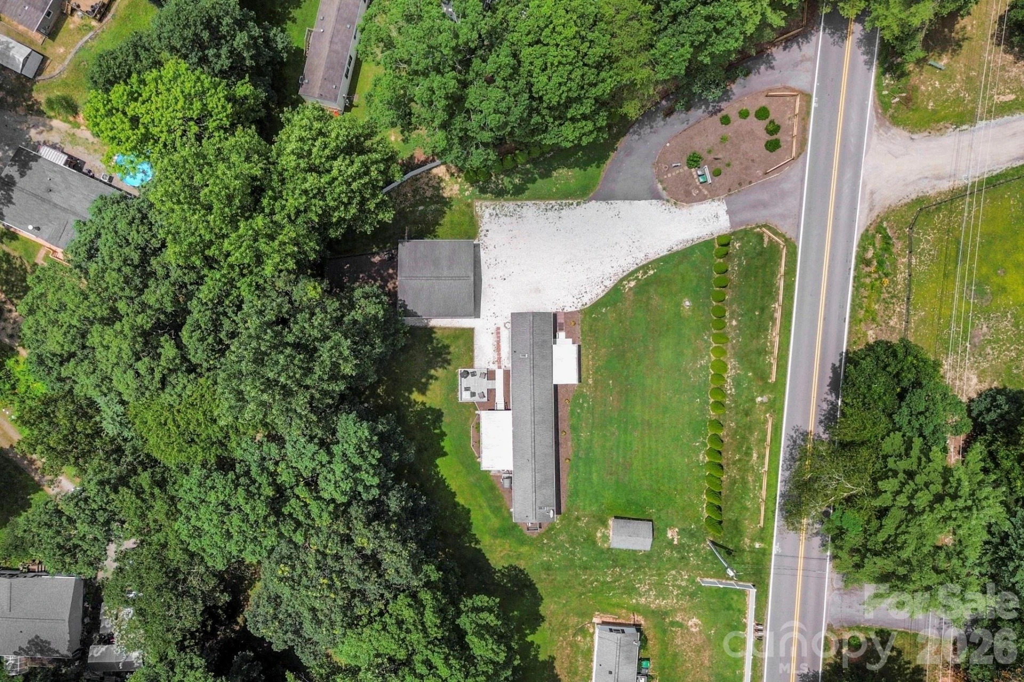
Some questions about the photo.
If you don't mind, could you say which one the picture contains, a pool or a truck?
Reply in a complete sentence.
This aerial view contains a pool.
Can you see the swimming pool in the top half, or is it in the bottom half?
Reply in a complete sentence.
The swimming pool is in the top half of the image.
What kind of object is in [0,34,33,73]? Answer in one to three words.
shed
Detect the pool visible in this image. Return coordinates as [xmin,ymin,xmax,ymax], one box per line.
[110,155,156,190]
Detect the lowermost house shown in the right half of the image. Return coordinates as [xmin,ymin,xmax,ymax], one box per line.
[592,623,640,682]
